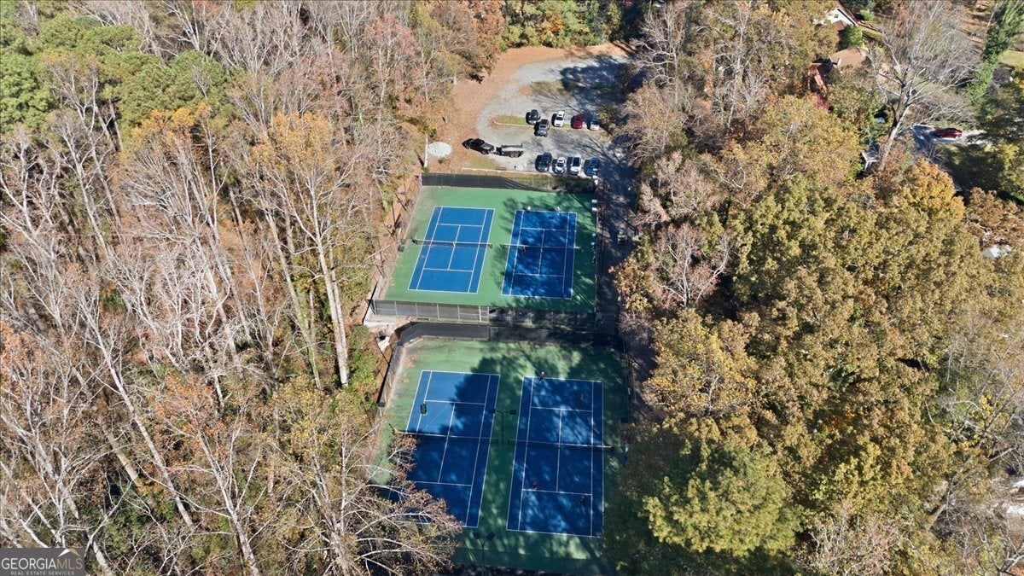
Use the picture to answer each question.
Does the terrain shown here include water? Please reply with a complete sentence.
No, no water is visible.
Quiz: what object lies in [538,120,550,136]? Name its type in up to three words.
vehicle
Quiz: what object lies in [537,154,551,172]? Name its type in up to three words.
car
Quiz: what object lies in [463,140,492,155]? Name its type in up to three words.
vehicle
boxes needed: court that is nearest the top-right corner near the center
[484,189,596,325]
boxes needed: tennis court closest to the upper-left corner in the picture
[379,186,509,320]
